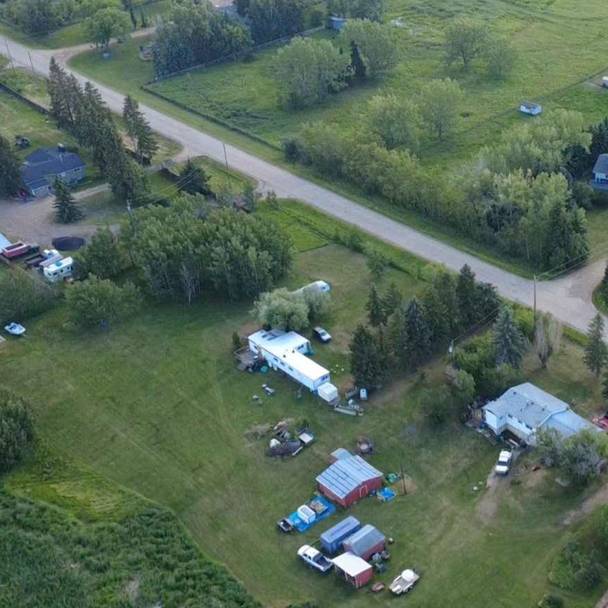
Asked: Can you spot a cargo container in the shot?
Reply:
Yes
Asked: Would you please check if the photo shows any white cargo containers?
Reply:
No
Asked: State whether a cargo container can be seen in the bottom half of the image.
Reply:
Yes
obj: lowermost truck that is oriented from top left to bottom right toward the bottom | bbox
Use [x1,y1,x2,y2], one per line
[294,542,332,570]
